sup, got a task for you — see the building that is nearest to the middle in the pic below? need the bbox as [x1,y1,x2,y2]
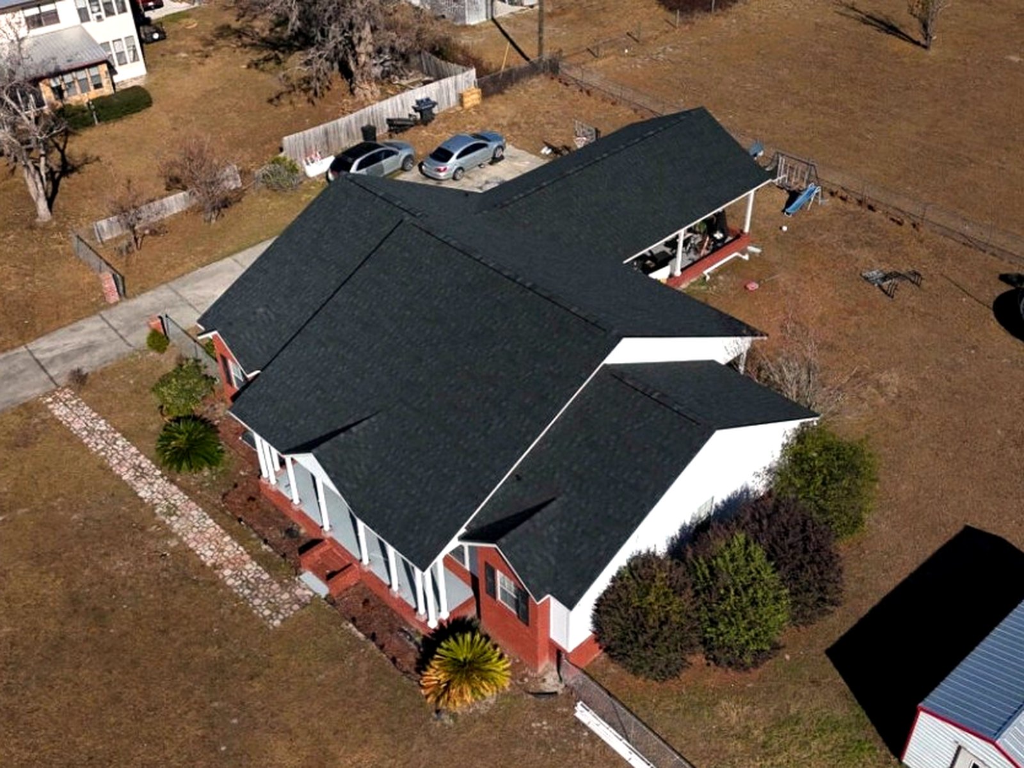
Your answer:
[195,107,821,679]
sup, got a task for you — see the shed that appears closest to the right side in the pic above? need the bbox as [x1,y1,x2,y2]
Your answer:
[903,590,1024,768]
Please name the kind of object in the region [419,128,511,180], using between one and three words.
car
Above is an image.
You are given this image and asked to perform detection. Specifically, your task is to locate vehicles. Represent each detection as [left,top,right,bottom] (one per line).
[133,3,174,41]
[319,136,418,185]
[419,128,511,180]
[130,0,167,9]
